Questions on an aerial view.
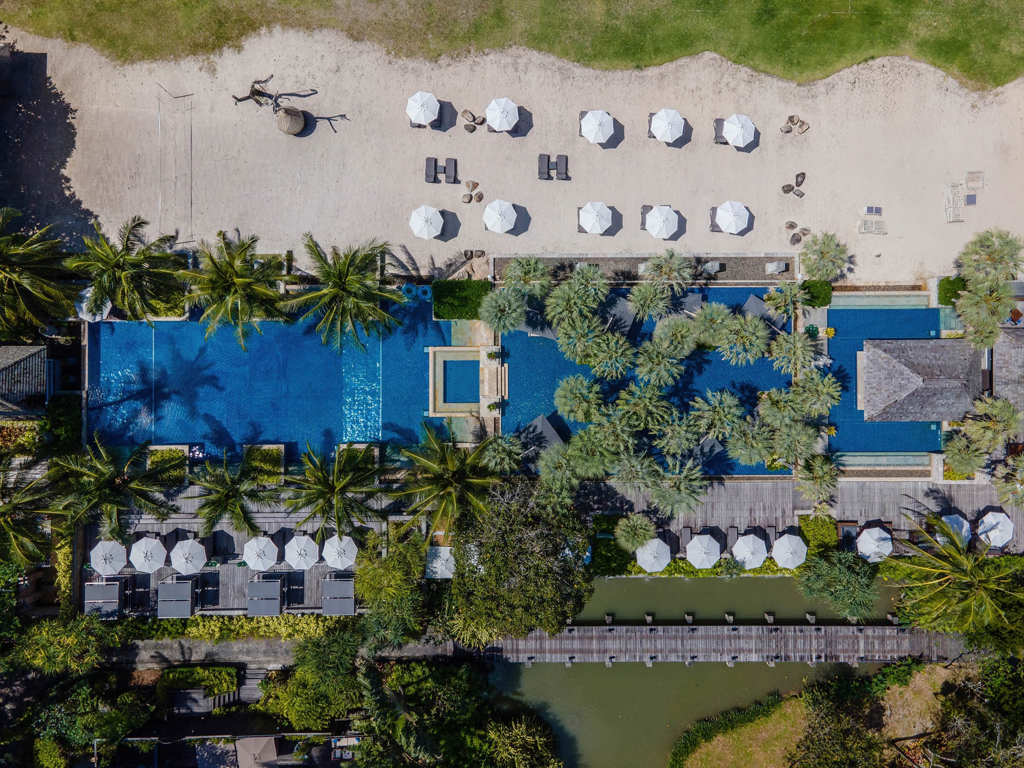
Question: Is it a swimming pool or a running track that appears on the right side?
swimming pool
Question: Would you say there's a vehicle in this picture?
No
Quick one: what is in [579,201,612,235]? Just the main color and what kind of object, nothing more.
white umbrella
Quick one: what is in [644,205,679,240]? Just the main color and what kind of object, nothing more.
white umbrella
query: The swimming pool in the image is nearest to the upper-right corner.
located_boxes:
[828,281,968,482]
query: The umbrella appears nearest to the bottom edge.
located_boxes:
[235,734,280,768]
